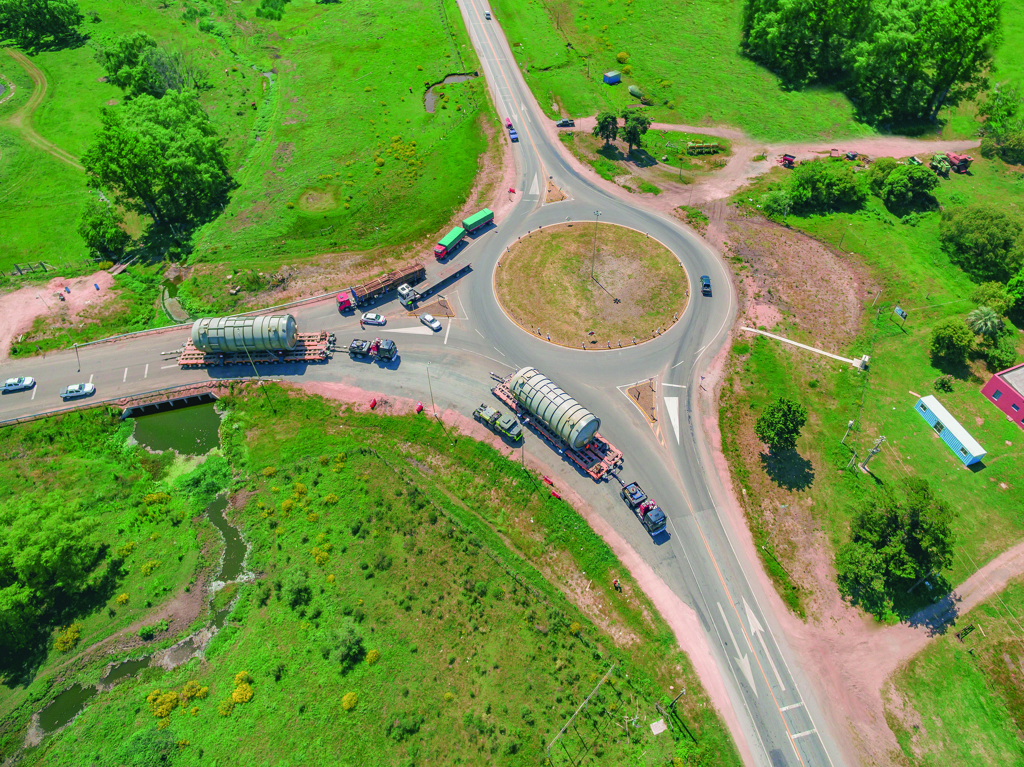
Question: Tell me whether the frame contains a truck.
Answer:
Yes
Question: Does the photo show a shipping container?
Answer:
Yes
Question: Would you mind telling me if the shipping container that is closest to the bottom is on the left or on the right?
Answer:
right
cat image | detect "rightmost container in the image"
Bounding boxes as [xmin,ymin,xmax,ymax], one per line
[915,394,989,466]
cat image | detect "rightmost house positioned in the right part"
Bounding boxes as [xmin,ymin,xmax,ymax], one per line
[981,364,1024,429]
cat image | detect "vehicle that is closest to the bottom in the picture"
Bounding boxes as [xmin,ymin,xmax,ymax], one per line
[618,481,672,539]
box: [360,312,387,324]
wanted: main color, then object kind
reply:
white vehicle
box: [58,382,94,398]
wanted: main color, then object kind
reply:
white vehicle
